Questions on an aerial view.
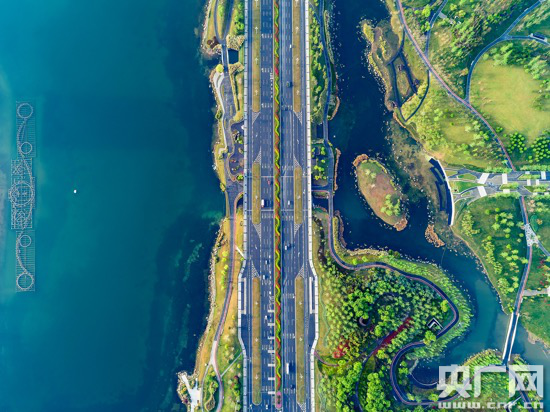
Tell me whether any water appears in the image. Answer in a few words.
Yes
